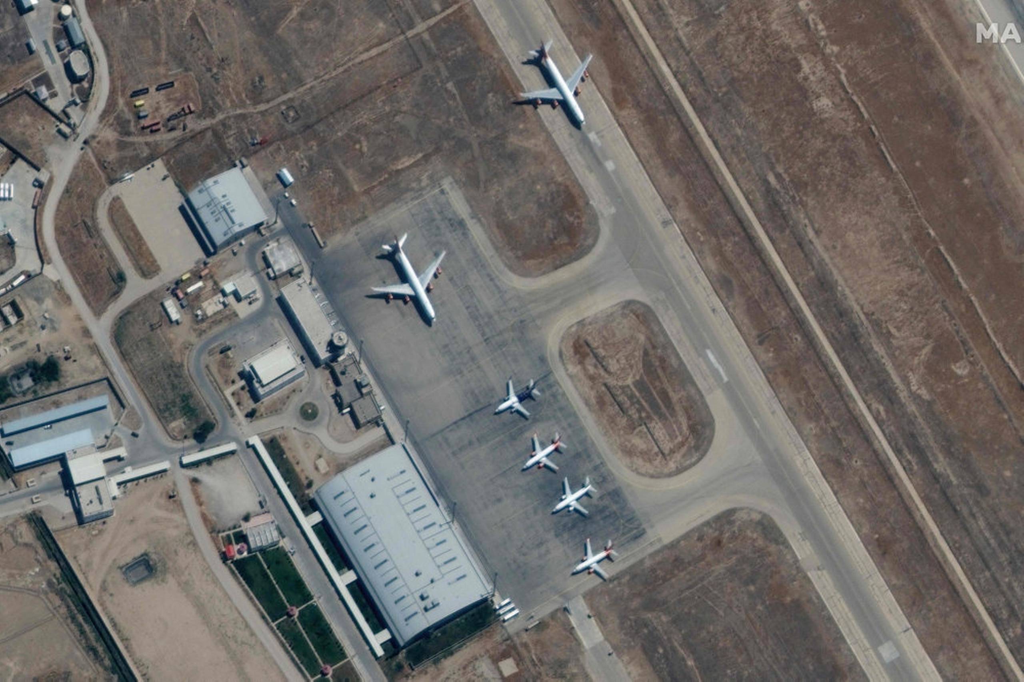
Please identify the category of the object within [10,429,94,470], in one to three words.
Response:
shed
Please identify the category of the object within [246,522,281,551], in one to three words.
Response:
greenhouse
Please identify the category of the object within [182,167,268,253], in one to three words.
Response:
hangar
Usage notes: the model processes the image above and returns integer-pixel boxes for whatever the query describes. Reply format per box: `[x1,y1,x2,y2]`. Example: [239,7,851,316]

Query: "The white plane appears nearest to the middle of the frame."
[495,382,540,415]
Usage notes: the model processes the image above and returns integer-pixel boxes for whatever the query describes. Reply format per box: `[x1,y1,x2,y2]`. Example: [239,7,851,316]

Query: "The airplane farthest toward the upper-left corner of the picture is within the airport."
[371,239,449,318]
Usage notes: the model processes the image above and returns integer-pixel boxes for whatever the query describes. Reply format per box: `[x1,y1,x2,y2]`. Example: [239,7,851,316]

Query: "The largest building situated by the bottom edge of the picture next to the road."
[314,443,494,650]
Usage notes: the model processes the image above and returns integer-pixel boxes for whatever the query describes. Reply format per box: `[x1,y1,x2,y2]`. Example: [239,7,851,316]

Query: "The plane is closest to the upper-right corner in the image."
[520,43,598,122]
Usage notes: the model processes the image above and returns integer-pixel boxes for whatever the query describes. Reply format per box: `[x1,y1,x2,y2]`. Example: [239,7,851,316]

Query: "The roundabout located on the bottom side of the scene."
[291,393,327,429]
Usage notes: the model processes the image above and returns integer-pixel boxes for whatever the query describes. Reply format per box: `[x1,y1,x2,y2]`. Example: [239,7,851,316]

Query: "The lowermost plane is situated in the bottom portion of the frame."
[571,540,620,576]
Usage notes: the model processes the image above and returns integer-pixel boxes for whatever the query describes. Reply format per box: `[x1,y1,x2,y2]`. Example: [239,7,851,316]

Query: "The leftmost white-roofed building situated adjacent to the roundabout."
[239,338,304,399]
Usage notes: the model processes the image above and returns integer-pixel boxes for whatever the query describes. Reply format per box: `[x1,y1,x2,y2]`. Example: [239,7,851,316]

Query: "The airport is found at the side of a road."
[312,0,1024,682]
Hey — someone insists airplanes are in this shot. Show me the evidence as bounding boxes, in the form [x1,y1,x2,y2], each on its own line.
[371,239,449,318]
[495,382,540,415]
[520,43,598,122]
[552,477,599,513]
[571,540,620,576]
[522,434,568,469]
